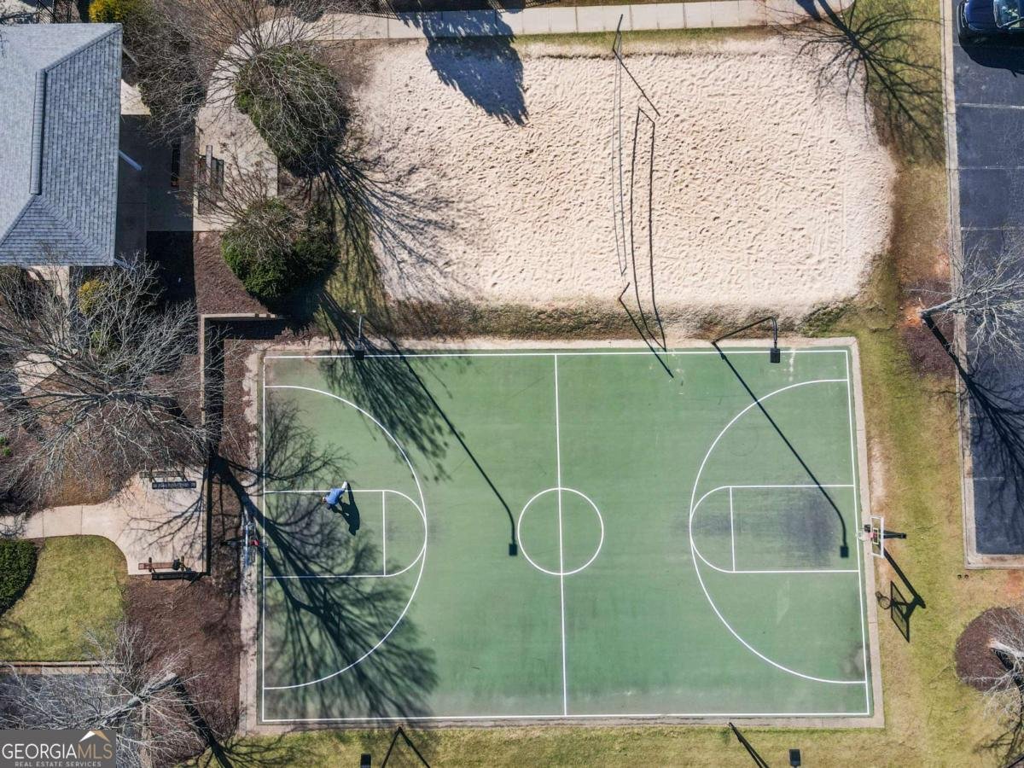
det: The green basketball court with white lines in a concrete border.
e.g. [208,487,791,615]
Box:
[240,337,884,733]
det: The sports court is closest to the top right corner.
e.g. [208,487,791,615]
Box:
[360,40,899,323]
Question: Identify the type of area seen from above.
sports ground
